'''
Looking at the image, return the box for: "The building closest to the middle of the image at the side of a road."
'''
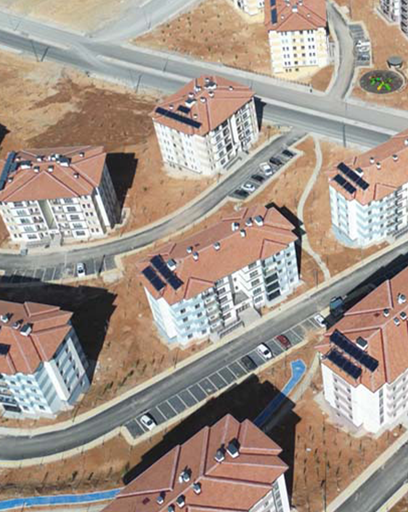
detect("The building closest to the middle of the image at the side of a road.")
[135,202,302,346]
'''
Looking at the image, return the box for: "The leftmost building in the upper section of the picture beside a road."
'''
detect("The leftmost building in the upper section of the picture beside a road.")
[0,146,118,250]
